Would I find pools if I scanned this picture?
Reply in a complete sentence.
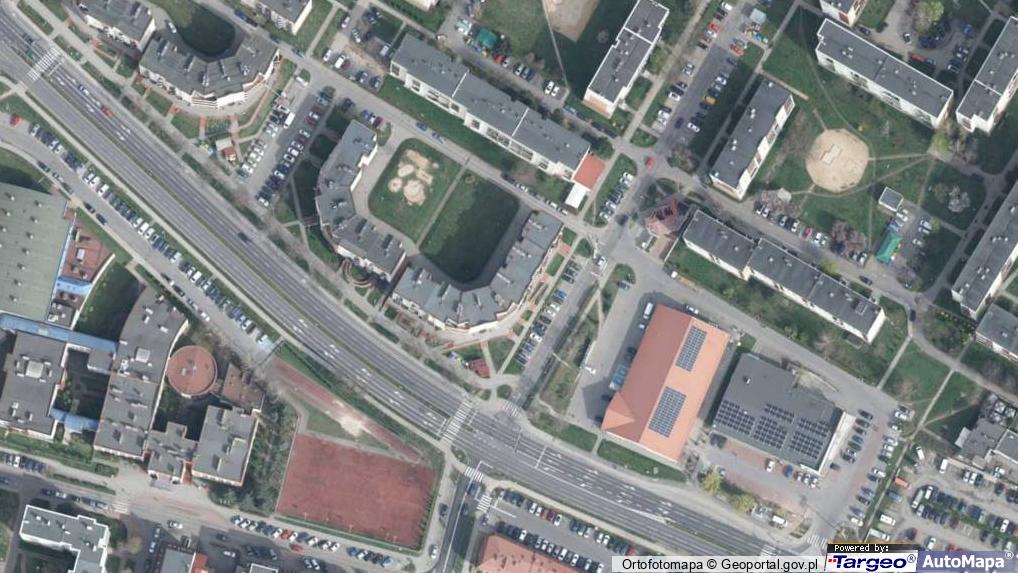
No, I can't see a single pool in this photo.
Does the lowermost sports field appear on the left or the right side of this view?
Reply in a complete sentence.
The lowermost sports field is on the left side of the image.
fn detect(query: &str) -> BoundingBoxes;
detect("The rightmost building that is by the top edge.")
[954,16,1018,135]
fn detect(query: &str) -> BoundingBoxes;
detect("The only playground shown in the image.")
[805,129,869,190]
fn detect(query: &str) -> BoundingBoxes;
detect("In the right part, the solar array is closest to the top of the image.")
[677,325,707,371]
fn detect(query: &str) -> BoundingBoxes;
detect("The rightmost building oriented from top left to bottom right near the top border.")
[815,19,952,132]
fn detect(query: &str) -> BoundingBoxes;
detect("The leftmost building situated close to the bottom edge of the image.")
[20,505,109,573]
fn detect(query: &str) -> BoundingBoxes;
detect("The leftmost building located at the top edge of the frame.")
[75,0,156,53]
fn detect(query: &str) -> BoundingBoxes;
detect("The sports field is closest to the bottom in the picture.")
[277,433,433,547]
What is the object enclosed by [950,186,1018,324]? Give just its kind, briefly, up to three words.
building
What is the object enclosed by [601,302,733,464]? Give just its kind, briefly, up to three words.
building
